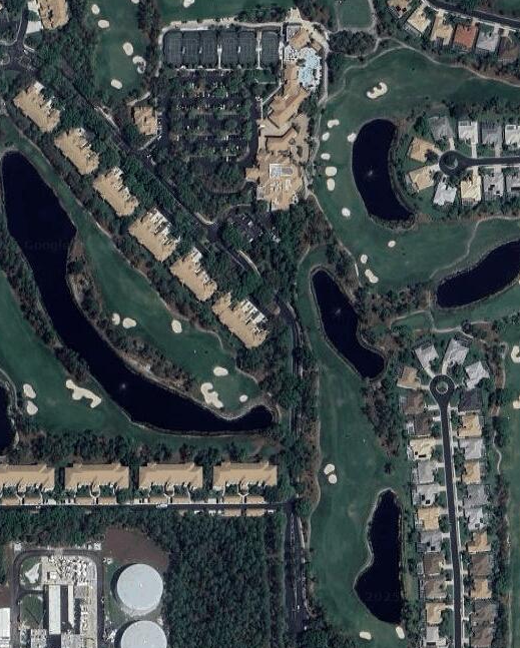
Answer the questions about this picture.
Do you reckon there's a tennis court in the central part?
No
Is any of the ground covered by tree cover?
Yes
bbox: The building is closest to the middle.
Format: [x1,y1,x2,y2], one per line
[211,291,273,351]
